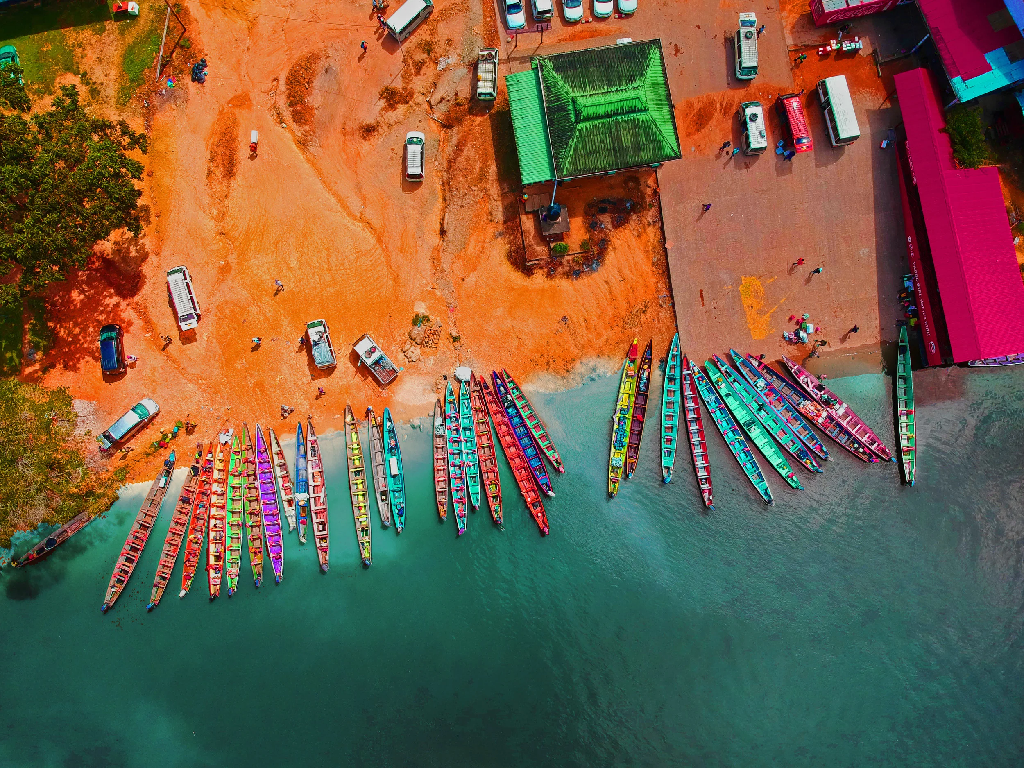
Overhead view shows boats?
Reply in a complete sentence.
Yes, the frame does contain a boat.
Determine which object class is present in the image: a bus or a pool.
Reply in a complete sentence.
I can see a bus in this picture.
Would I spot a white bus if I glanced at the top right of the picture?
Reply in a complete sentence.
Yes, there is a white bus at the top right of the picture.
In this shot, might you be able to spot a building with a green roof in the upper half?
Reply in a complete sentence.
Yes, you'll find a building with a green roof in the upper half.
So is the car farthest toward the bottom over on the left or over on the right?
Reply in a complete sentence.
The car farthest toward the bottom is on the left side of the image.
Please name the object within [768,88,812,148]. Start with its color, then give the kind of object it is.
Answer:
red van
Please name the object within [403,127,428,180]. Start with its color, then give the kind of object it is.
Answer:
white car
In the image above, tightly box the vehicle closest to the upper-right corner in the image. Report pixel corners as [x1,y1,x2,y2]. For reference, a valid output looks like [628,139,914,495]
[813,76,860,152]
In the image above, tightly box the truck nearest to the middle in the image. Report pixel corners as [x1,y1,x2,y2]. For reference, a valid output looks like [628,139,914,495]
[352,335,402,388]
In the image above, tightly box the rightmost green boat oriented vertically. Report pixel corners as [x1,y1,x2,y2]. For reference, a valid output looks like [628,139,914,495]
[896,327,916,488]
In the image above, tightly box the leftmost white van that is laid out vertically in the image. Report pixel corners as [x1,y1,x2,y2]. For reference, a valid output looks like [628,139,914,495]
[167,261,204,327]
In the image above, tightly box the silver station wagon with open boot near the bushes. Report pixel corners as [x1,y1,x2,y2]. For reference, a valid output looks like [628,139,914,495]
[101,385,172,438]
